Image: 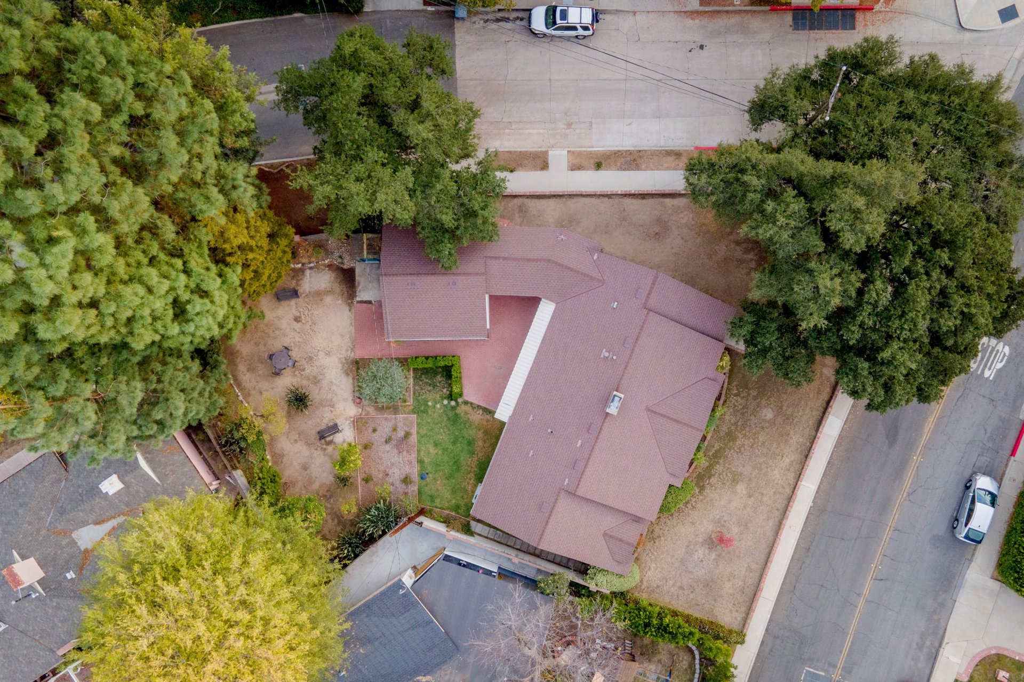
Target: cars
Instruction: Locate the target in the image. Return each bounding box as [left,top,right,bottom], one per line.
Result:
[530,0,599,37]
[953,474,1003,547]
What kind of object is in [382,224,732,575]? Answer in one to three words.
house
